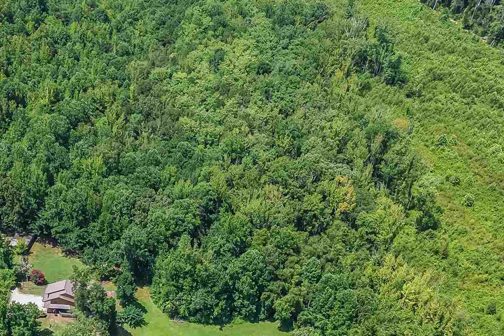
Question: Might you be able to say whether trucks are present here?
No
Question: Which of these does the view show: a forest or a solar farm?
forest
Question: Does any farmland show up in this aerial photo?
No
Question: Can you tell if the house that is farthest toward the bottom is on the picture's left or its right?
left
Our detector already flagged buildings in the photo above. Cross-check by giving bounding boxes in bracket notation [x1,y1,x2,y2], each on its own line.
[42,270,88,314]
[11,233,34,253]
